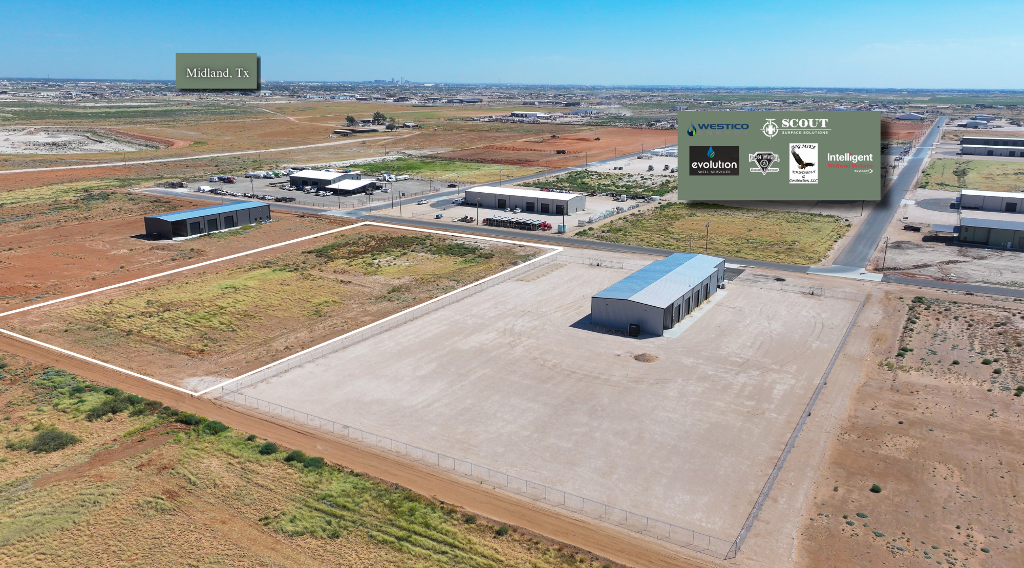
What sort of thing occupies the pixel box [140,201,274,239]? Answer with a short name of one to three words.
building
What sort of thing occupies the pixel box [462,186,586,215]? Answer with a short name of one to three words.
building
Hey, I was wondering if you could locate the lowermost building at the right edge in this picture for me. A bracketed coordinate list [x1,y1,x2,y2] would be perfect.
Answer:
[922,218,1024,249]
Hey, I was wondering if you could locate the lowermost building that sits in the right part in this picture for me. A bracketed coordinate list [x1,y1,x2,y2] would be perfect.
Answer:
[590,253,727,336]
